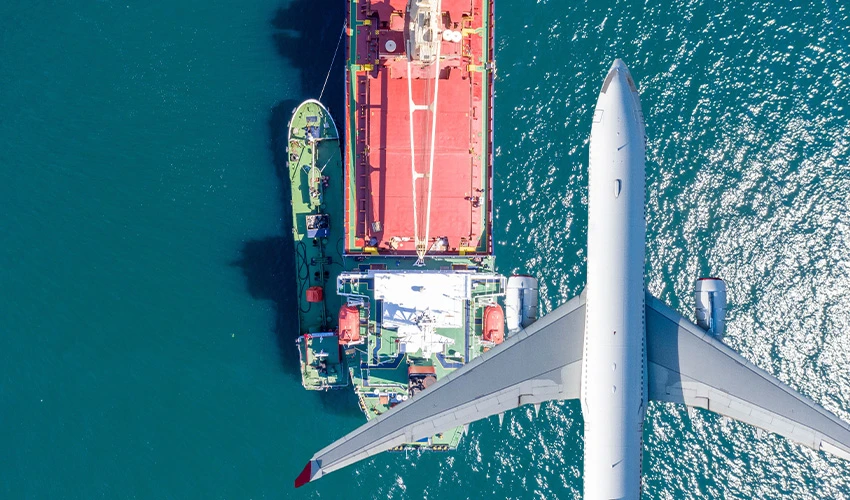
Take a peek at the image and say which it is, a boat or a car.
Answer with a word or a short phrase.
boat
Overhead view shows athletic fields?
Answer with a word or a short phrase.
No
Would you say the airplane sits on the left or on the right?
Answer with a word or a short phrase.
right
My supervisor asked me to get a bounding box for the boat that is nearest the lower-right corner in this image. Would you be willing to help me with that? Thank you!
[483,305,504,345]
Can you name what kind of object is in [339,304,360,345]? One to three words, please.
boat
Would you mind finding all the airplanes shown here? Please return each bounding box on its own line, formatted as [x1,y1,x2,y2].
[295,59,850,500]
